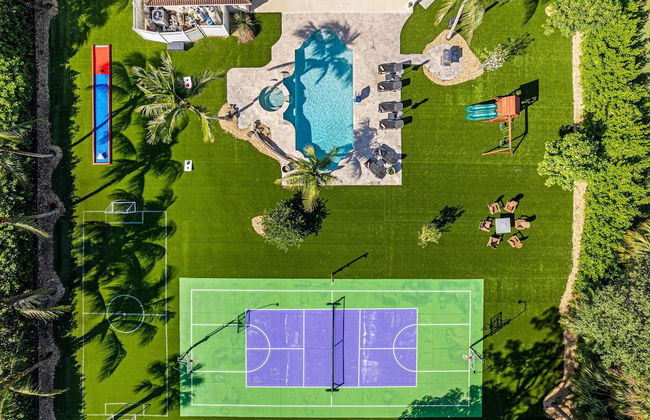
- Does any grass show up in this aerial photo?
Yes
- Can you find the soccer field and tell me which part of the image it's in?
bottom left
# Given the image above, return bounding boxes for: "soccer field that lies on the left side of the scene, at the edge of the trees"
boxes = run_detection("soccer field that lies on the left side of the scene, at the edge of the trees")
[81,209,169,420]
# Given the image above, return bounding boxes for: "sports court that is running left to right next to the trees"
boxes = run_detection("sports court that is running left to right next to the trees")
[180,279,484,417]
